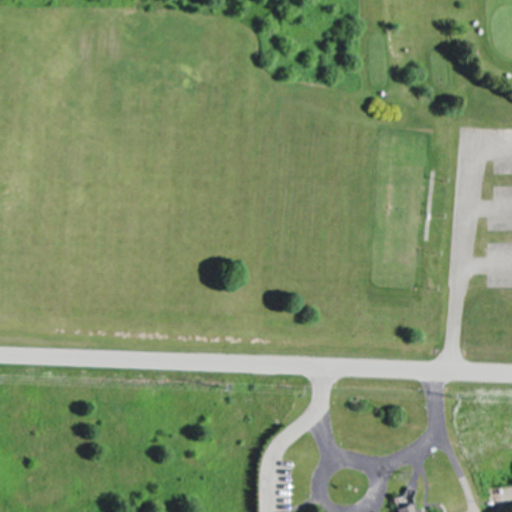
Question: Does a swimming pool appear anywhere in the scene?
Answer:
No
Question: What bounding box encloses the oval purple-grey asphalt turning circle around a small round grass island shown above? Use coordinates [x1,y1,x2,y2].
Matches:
[318,458,380,512]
